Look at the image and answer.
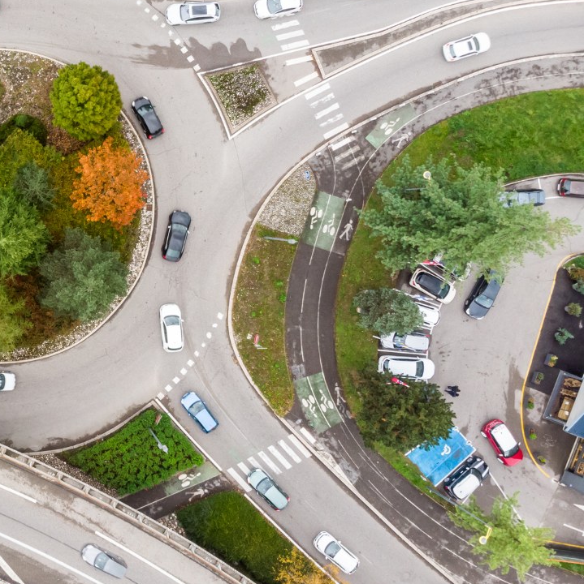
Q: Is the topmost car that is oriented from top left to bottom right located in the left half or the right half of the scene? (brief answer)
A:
left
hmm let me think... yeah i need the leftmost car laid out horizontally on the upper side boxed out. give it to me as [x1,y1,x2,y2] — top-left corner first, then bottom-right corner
[164,0,222,26]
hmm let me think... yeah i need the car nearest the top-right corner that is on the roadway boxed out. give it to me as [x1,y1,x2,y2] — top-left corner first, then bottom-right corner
[440,32,491,61]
